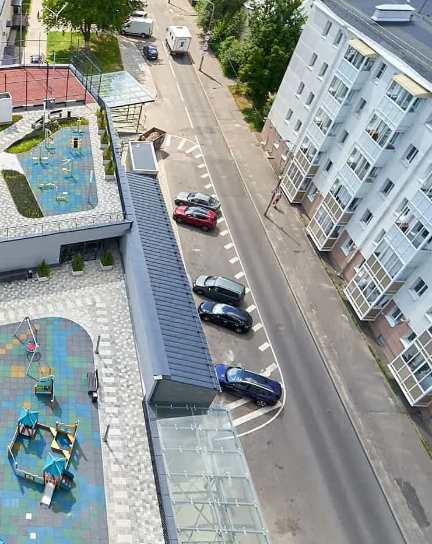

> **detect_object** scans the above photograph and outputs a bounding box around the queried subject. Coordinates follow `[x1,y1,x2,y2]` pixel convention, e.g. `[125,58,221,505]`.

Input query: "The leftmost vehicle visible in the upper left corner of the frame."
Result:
[28,51,46,65]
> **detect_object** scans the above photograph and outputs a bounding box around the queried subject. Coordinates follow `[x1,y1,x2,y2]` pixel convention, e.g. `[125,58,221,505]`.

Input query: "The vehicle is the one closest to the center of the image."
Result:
[189,274,250,306]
